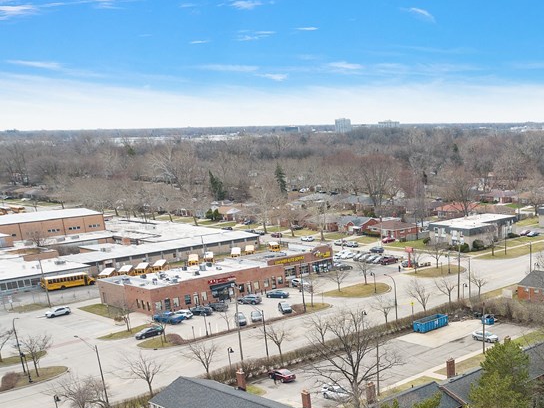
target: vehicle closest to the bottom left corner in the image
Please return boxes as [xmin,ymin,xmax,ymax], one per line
[46,305,77,317]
